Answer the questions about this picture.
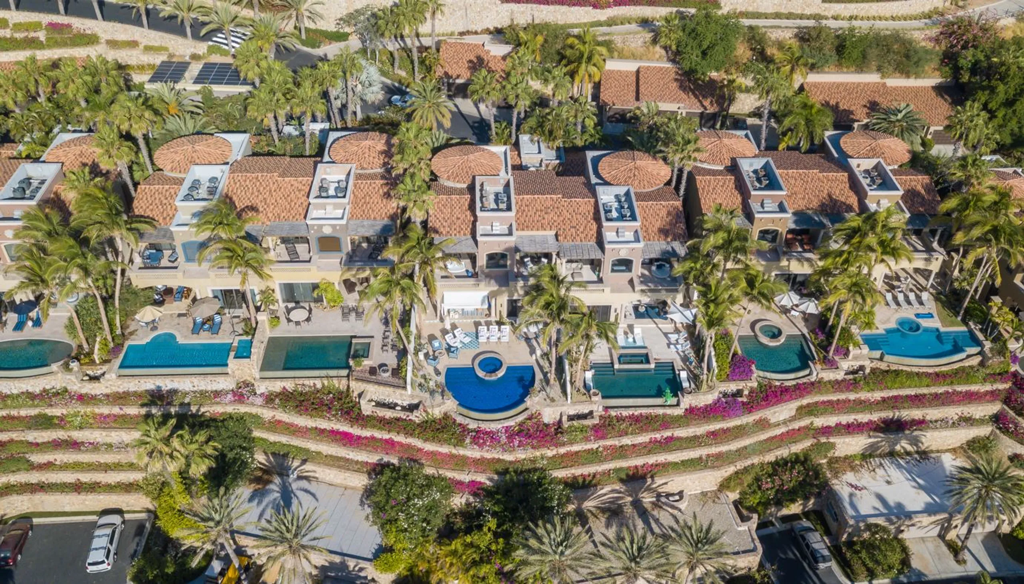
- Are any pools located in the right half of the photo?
Yes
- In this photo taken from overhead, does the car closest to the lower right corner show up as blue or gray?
gray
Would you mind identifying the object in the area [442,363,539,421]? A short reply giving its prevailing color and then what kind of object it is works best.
blue swimming pool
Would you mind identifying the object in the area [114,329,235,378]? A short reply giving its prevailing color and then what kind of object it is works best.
blue swimming pool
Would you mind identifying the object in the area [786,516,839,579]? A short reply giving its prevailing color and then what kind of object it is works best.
gray car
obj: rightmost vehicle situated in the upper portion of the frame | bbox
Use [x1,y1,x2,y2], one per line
[728,113,757,138]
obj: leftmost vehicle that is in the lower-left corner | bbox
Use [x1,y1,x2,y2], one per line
[0,513,41,573]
